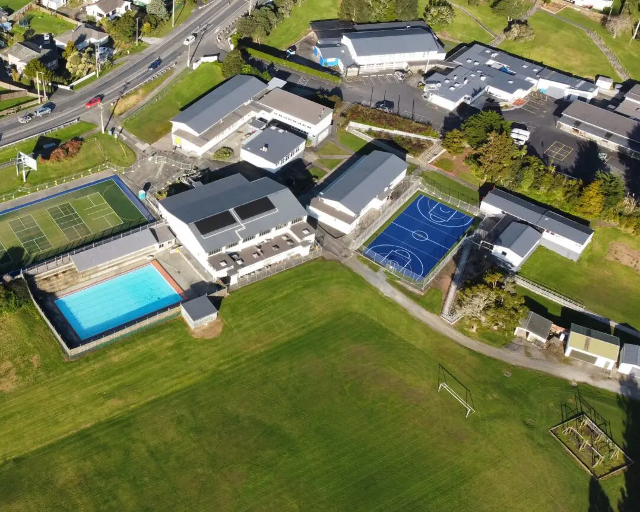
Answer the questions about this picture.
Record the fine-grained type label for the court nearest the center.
basketball court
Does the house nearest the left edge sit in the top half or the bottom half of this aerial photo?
top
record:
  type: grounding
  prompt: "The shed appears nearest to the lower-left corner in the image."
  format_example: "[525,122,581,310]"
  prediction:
[181,295,219,331]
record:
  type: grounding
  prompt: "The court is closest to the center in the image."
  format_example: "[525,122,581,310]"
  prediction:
[365,195,479,278]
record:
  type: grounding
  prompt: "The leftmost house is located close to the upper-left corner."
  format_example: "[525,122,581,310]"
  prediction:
[0,41,50,79]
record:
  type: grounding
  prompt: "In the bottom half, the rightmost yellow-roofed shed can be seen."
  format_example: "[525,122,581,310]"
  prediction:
[561,323,618,372]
